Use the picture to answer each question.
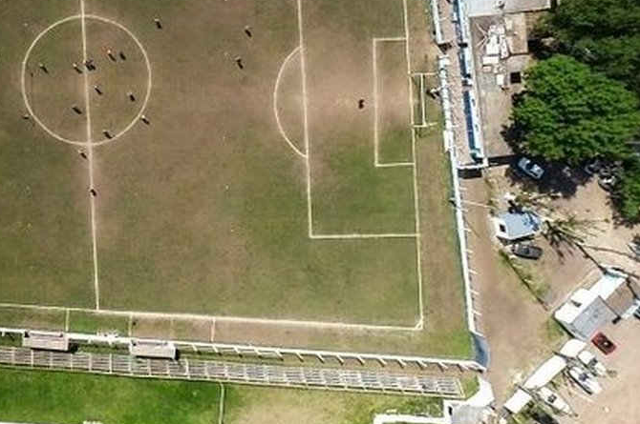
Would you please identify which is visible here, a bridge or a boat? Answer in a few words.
boat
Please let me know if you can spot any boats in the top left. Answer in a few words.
No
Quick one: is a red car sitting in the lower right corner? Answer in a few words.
Yes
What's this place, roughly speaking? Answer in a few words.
sports ground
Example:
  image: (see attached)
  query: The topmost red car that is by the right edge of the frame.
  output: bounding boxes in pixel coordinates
[590,333,614,355]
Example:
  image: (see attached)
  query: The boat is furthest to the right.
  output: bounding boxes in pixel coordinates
[565,367,604,395]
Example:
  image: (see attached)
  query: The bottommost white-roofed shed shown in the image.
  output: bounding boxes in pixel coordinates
[441,397,492,424]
